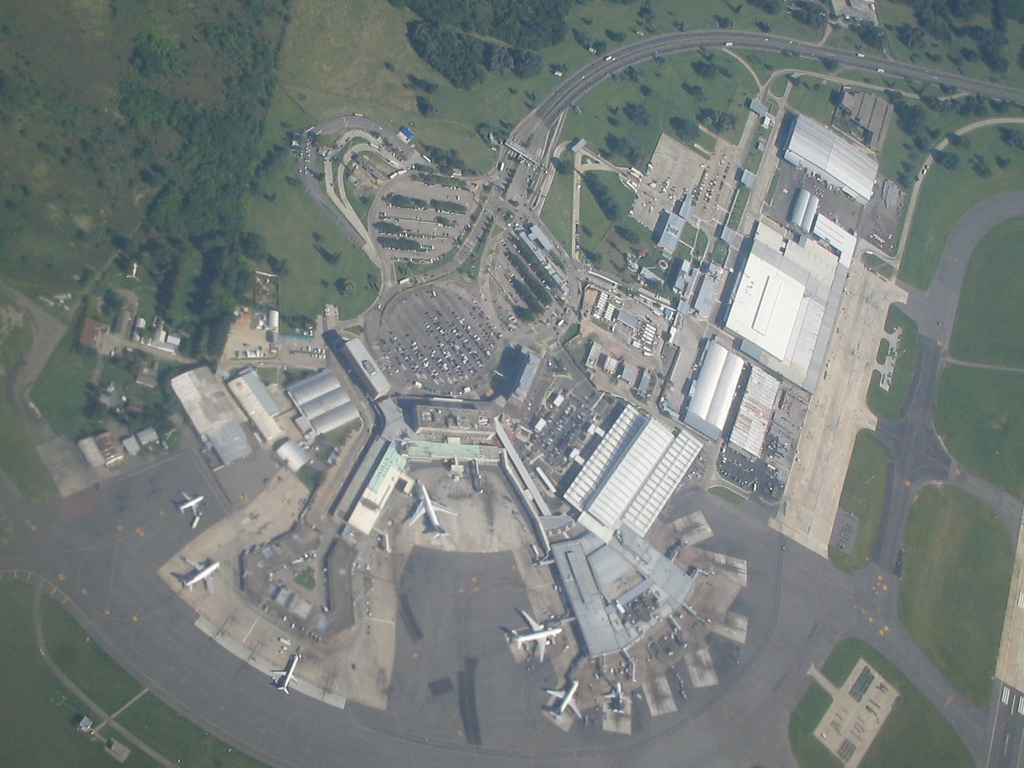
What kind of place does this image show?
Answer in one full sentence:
This looks like an airport.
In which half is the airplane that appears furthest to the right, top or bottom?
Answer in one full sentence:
It is in the bottom half that the airplane that appears furthest to the right appears.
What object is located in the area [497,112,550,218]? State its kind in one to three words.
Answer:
toll station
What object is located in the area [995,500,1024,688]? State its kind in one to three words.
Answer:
runway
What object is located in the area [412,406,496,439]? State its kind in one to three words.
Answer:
building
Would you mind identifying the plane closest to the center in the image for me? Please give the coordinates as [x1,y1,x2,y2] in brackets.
[411,480,457,535]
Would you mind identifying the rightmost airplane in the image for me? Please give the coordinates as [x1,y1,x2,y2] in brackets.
[606,684,630,711]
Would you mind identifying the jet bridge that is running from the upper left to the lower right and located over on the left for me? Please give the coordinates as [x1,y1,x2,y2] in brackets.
[369,525,391,555]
